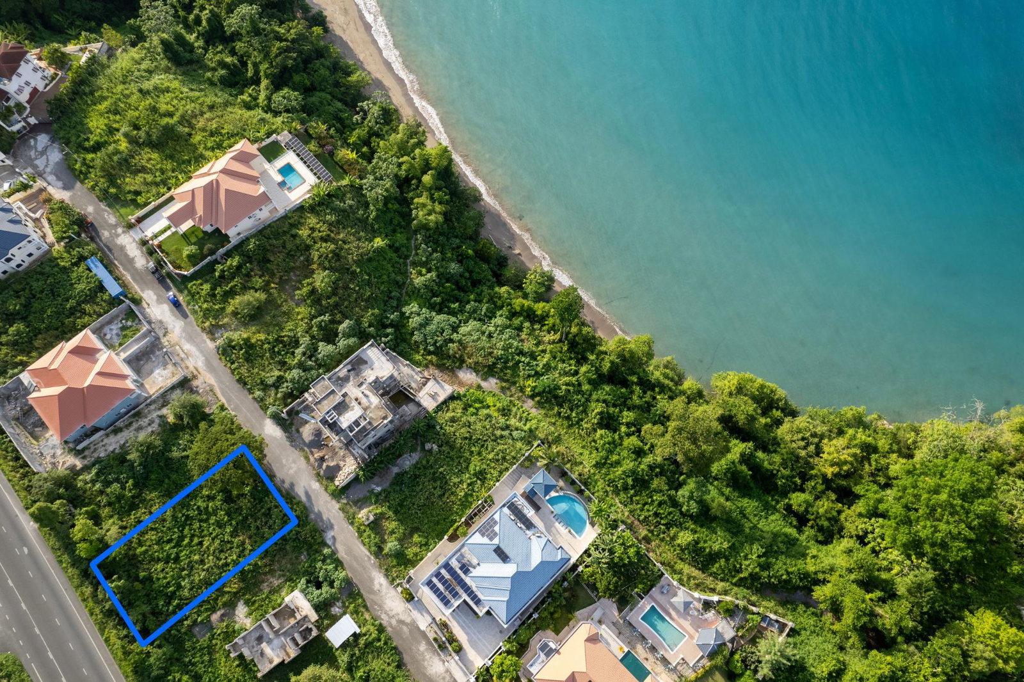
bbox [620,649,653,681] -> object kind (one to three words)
swimming pool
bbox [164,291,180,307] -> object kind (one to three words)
car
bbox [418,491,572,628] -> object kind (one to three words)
house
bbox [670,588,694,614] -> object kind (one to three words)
umbrella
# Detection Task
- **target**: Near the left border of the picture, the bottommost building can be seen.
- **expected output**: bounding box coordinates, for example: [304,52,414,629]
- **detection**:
[20,328,151,442]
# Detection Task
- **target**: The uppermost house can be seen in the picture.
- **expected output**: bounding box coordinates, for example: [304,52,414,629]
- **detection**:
[0,41,58,122]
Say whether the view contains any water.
Yes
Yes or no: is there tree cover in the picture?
Yes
